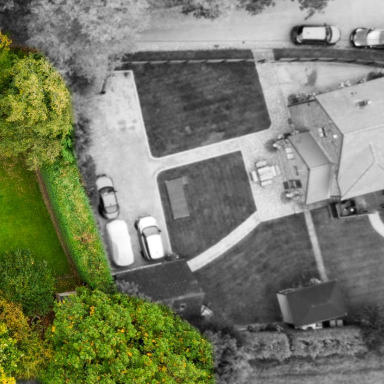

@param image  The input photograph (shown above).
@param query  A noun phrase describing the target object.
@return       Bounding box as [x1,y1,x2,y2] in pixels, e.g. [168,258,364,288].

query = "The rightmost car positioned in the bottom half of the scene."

[135,214,166,262]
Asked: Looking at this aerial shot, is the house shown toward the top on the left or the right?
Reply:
right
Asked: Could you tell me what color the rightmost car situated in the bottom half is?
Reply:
white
